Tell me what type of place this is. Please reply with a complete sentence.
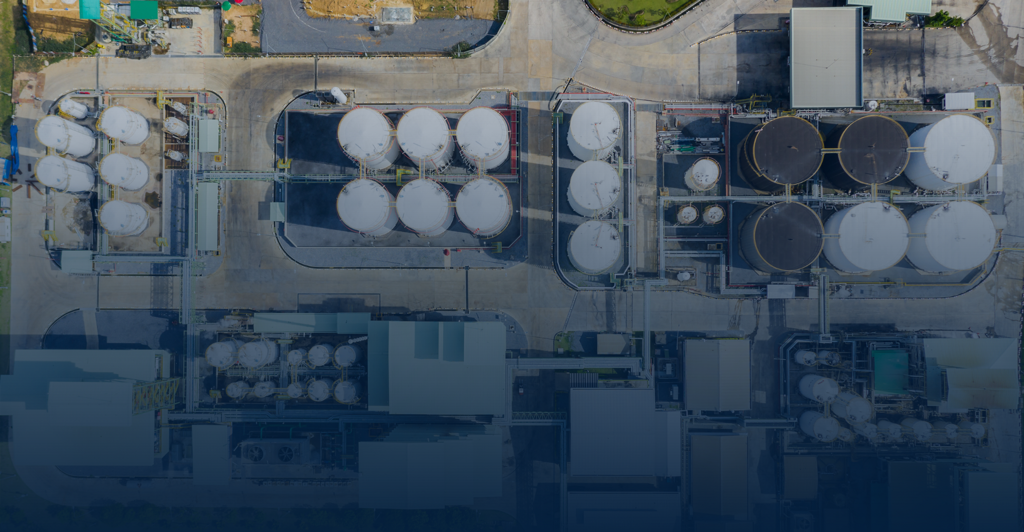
The area seen from above is an industrial area.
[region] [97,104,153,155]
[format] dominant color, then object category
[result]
white storage tank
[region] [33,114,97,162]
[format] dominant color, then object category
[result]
white storage tank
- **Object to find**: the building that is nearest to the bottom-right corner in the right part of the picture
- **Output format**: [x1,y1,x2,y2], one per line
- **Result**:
[947,461,1021,532]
